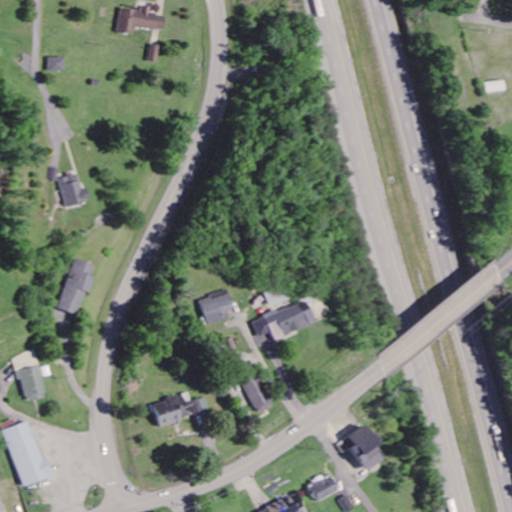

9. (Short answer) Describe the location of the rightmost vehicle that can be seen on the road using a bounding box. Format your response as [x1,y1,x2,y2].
[492,428,508,462]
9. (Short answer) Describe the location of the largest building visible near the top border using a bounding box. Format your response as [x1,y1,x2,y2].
[116,6,165,34]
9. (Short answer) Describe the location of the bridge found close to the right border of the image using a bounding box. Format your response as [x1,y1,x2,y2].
[378,260,508,376]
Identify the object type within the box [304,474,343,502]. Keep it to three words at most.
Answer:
house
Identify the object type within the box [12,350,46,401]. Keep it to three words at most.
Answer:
building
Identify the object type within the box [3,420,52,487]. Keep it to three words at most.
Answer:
barn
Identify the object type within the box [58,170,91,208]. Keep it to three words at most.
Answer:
house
